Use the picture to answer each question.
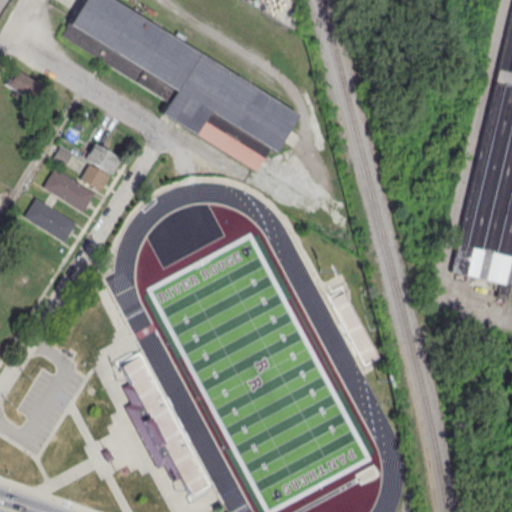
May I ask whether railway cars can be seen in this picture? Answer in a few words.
No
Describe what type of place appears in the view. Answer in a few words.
sports ground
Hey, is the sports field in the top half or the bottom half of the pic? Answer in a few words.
bottom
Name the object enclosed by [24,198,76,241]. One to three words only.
house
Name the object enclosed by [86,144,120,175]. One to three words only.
house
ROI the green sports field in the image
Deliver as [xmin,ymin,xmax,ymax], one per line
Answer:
[144,233,374,512]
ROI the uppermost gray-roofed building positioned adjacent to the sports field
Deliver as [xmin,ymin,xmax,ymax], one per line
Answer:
[63,0,298,172]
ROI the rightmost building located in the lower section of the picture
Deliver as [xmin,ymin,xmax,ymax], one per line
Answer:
[123,382,179,481]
